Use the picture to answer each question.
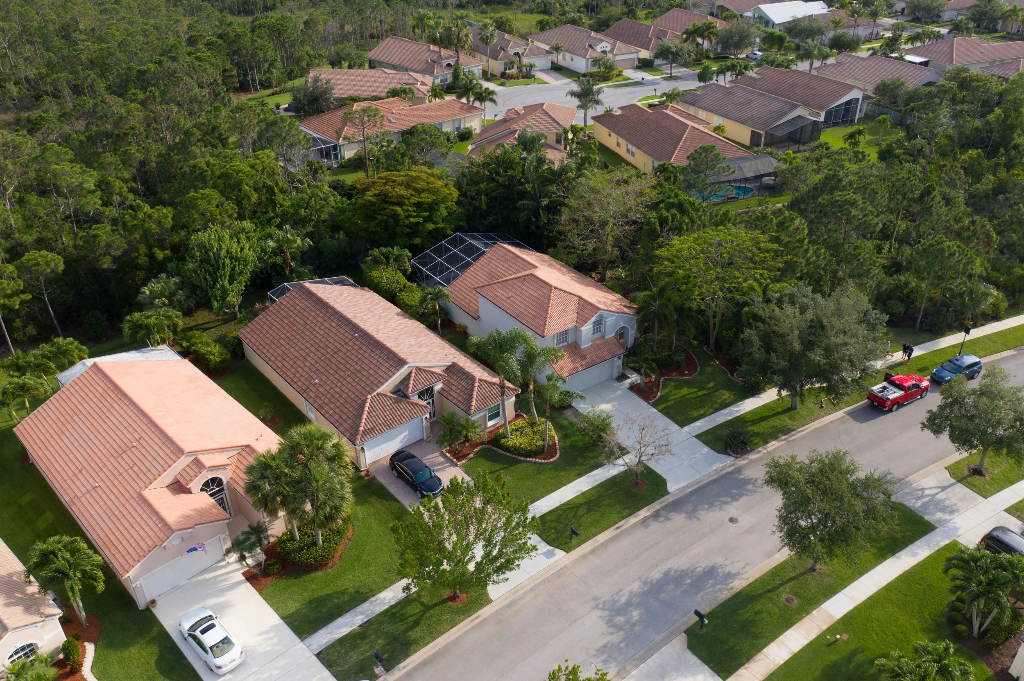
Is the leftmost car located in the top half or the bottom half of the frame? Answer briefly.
bottom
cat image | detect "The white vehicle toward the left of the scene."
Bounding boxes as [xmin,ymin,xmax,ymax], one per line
[175,606,245,676]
